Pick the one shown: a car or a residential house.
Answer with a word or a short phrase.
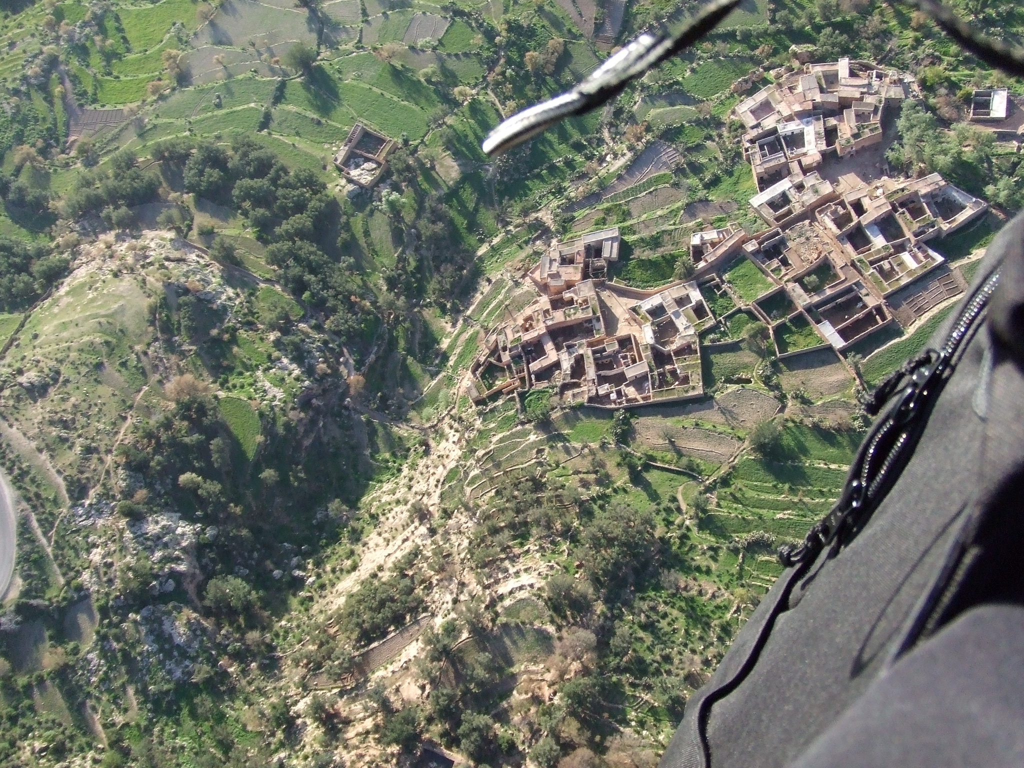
residential house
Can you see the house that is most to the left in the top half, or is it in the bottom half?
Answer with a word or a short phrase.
top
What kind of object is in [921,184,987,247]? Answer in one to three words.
house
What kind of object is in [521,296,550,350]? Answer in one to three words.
house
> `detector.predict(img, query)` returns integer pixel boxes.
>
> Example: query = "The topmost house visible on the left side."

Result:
[333,124,396,200]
